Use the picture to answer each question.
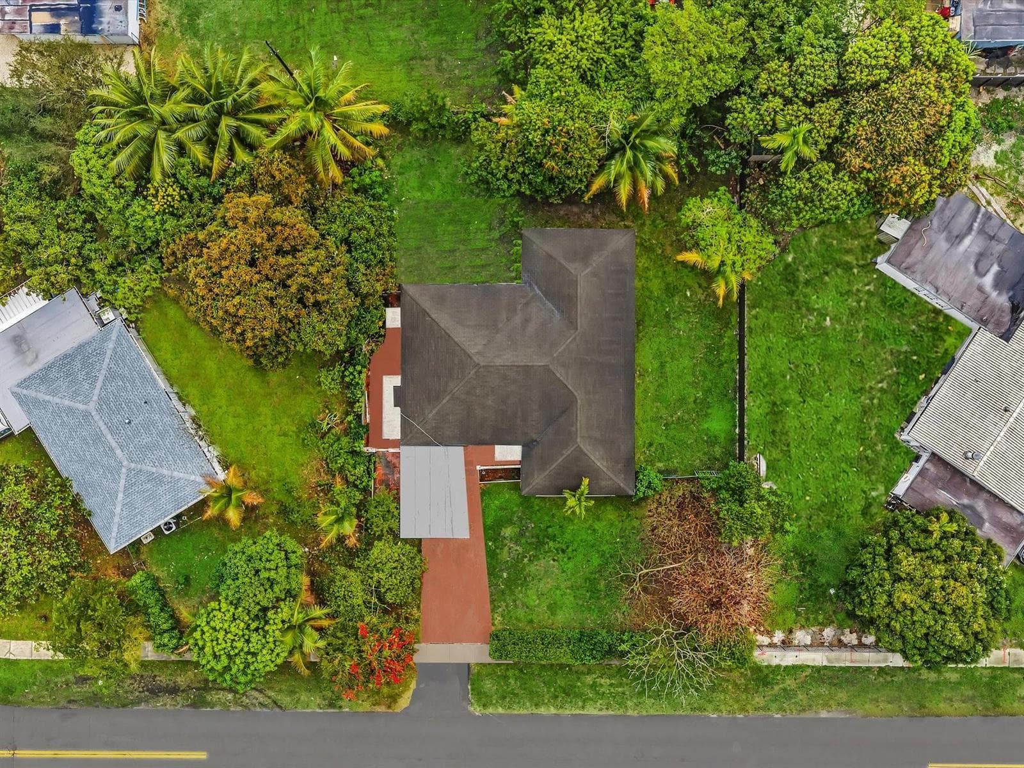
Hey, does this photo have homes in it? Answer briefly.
Yes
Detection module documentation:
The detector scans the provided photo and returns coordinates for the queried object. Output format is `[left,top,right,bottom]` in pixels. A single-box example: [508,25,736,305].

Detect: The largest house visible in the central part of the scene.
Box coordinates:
[394,227,636,497]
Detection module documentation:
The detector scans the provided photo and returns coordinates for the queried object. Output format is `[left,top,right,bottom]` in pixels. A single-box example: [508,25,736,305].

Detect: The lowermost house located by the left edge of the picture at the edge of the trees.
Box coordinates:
[0,275,228,555]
